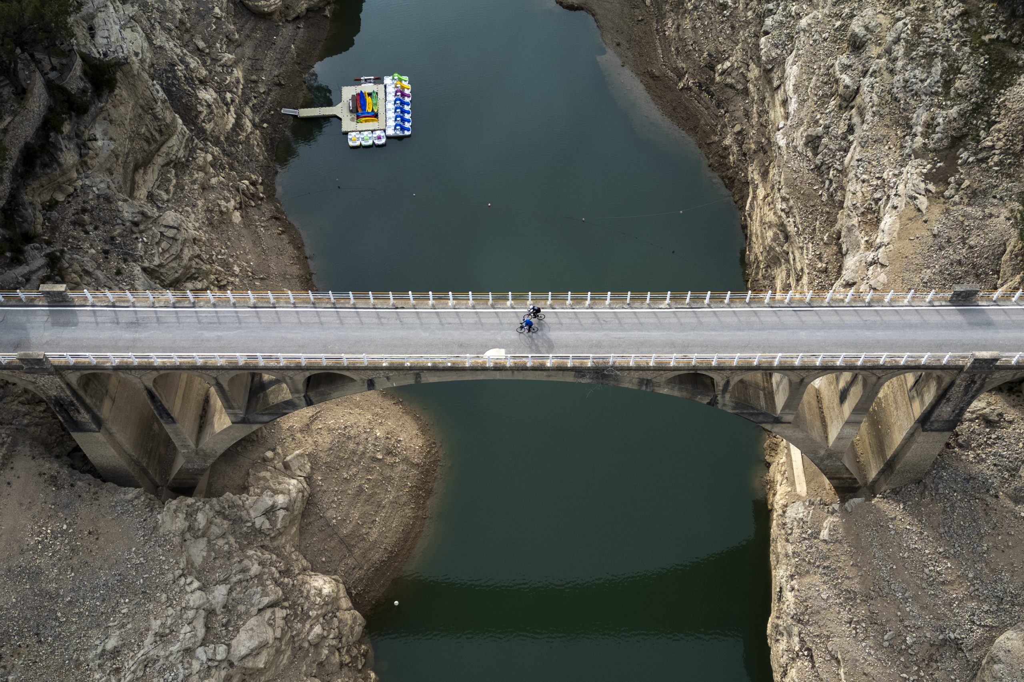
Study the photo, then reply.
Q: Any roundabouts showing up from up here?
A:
No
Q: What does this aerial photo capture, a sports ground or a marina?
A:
marina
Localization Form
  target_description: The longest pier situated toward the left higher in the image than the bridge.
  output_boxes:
[298,84,386,133]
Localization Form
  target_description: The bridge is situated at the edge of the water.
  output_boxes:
[0,282,1024,504]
